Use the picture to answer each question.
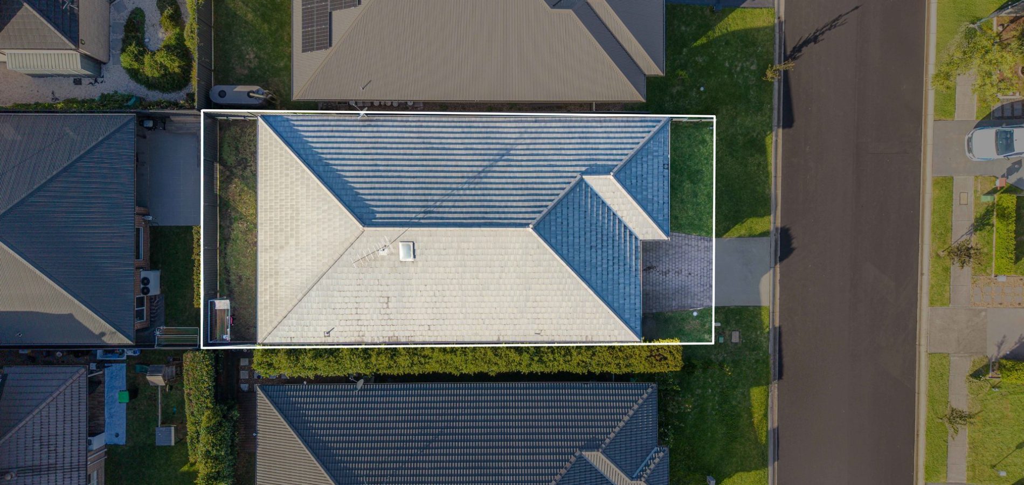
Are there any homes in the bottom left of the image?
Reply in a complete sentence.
Yes, in the bottom left of the image there is a home.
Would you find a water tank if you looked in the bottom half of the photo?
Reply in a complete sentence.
No, there is no water tank in the bottom half of the photo.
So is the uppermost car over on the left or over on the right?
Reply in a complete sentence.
You can find the uppermost car on the right side of the picture.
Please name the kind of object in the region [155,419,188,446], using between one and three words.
house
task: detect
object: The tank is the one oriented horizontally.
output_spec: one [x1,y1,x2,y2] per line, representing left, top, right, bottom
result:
[211,86,284,110]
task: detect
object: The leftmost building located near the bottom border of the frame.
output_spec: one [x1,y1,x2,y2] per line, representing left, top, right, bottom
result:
[0,364,114,485]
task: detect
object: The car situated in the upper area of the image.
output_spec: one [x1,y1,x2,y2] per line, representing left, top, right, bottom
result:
[964,123,1024,163]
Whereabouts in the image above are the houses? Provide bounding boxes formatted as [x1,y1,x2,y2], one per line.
[0,364,114,485]
[290,0,667,103]
[155,419,188,446]
[0,111,150,346]
[254,380,670,485]
[0,0,110,62]
[255,113,672,345]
